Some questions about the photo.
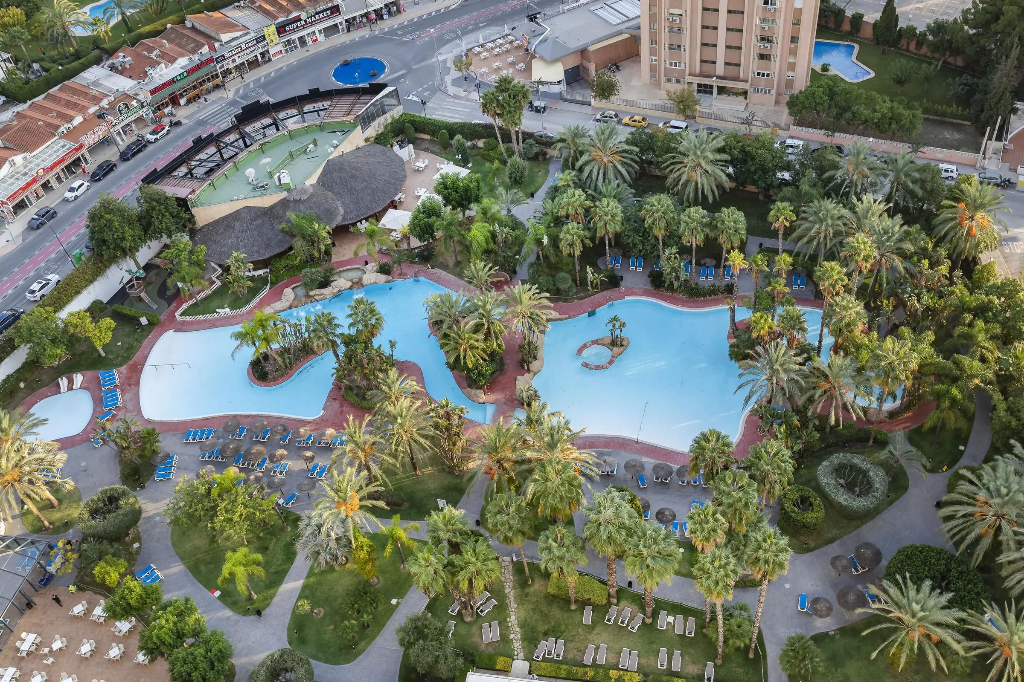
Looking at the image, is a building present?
Yes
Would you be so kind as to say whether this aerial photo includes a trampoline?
No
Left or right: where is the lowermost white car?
left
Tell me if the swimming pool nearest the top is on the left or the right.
left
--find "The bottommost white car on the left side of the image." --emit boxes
[24,276,62,299]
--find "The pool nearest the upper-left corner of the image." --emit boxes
[68,0,137,35]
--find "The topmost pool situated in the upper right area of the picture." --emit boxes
[820,41,872,80]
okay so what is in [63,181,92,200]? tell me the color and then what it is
white car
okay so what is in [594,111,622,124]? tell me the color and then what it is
gray vehicle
